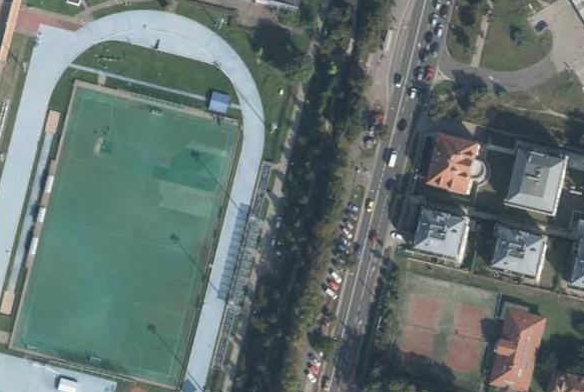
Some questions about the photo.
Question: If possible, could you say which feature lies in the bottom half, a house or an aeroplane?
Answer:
house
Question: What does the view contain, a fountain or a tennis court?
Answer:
tennis court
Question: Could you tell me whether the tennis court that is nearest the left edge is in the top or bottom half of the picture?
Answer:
bottom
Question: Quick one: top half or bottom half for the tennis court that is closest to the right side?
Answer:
bottom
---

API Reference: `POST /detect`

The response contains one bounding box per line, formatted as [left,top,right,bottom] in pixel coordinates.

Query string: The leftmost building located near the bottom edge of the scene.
[489,302,546,392]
